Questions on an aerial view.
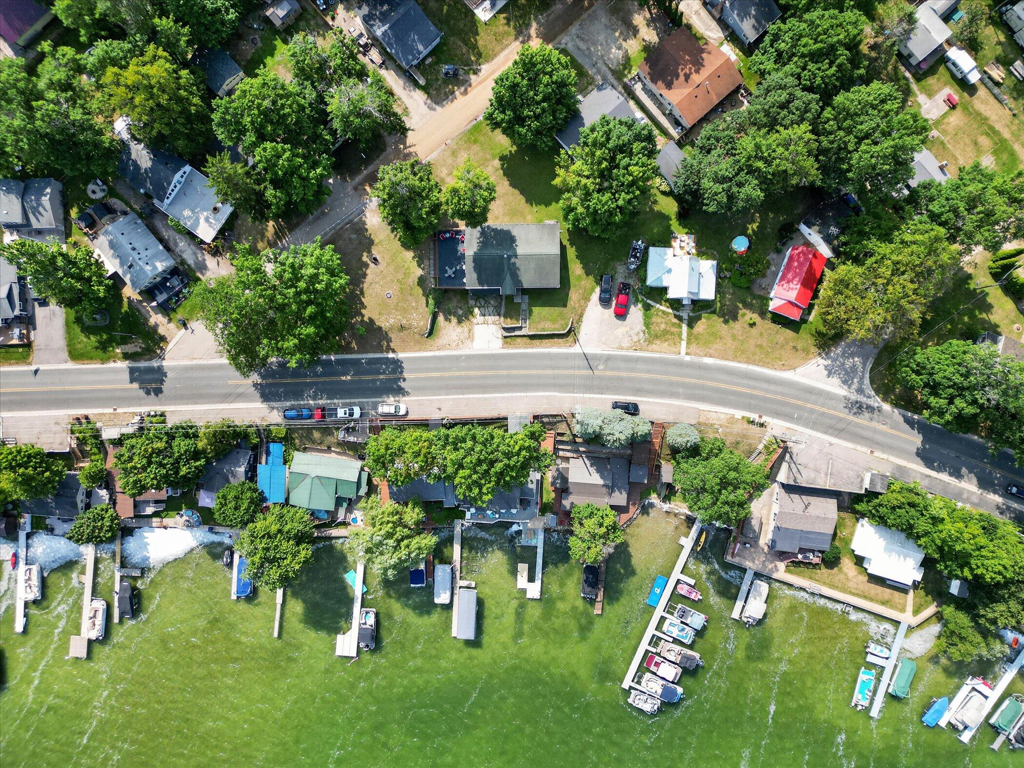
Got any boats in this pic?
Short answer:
Yes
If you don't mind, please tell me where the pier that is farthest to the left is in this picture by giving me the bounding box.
[15,530,30,633]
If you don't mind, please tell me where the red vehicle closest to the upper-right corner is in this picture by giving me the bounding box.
[614,281,631,316]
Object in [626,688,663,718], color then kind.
white boat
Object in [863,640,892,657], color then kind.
white boat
